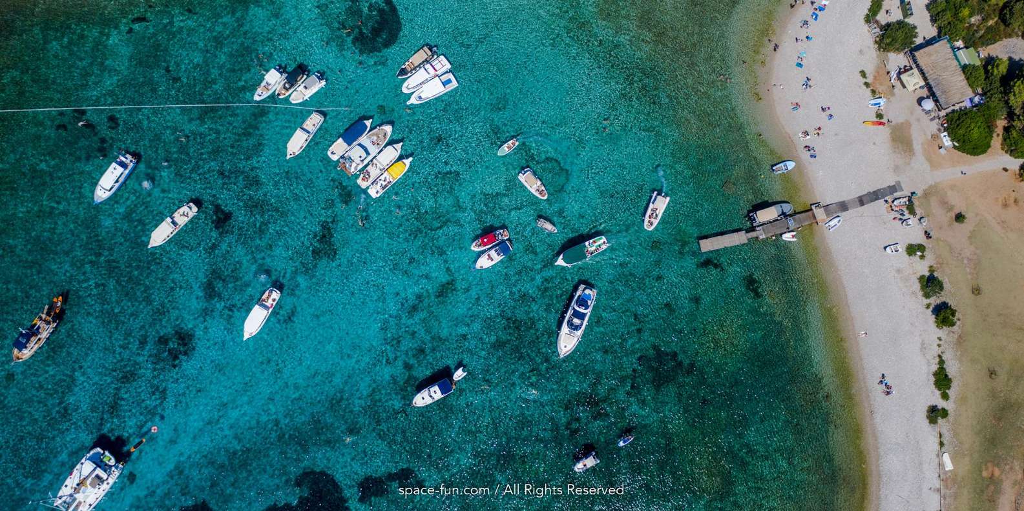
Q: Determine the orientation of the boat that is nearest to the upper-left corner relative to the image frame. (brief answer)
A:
diagonally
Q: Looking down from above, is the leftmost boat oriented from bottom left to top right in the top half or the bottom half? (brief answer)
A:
bottom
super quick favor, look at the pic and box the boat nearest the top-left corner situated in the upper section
[92,151,138,204]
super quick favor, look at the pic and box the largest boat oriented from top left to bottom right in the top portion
[521,166,547,198]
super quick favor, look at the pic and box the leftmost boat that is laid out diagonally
[7,305,58,366]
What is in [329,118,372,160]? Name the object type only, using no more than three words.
boat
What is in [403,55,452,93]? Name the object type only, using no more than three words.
boat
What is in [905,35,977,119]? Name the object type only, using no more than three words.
building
